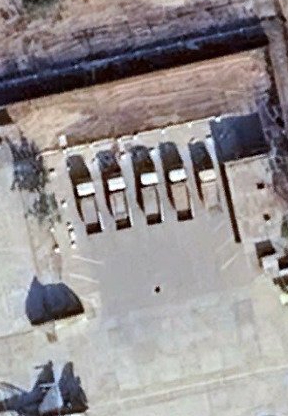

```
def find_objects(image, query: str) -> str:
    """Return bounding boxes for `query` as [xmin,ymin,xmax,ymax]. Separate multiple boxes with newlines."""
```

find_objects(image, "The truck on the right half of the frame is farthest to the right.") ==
[197,163,224,208]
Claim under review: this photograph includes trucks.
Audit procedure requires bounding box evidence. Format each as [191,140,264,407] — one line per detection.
[197,163,224,208]
[139,168,164,222]
[106,173,133,226]
[168,164,193,219]
[76,177,104,232]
